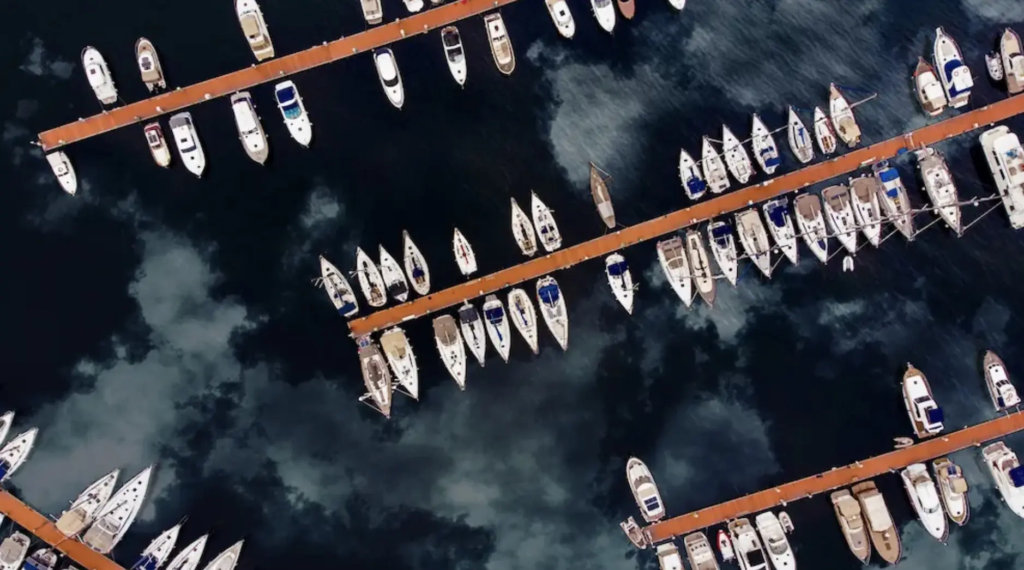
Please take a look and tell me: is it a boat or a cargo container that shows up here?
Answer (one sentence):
This aerial view contains a boat.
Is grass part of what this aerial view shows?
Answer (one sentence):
No, grass can't be seen anywhere here.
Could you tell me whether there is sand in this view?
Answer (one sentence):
No, there's no sand in this view.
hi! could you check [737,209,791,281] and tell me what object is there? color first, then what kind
white boat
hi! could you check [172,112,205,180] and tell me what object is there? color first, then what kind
white boat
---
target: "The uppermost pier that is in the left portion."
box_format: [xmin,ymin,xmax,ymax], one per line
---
[39,0,522,151]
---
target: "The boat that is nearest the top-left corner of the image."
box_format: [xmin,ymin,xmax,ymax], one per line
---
[84,44,118,106]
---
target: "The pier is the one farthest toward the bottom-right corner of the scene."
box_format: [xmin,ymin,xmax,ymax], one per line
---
[644,410,1024,543]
